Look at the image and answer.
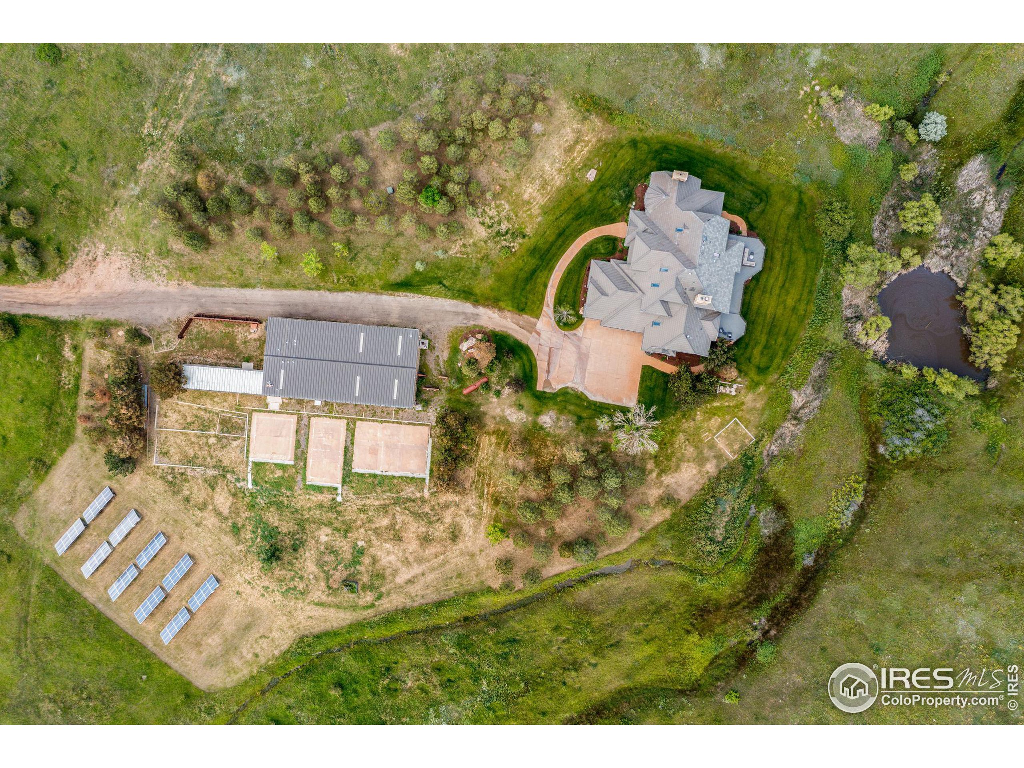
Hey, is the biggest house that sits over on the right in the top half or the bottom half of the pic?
top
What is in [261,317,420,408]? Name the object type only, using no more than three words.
barn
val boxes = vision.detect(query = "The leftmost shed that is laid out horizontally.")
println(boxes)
[181,364,263,395]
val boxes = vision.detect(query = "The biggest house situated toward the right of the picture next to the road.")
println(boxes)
[583,171,768,356]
